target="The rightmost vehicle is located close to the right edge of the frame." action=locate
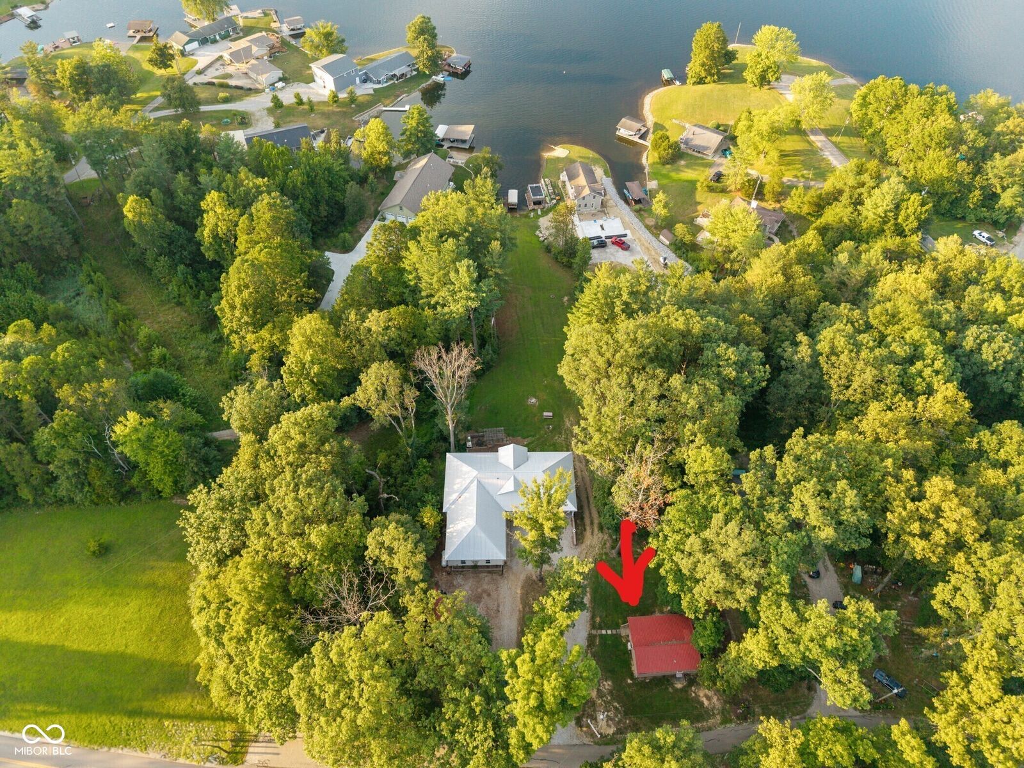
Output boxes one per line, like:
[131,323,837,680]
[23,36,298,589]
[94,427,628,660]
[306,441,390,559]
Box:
[969,228,1001,246]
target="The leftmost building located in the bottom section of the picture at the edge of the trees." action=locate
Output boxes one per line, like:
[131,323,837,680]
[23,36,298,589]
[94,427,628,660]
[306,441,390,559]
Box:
[442,443,579,578]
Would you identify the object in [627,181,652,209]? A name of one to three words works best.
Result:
building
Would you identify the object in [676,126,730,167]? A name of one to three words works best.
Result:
house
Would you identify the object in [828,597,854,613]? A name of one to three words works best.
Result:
car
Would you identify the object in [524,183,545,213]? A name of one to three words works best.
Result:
building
